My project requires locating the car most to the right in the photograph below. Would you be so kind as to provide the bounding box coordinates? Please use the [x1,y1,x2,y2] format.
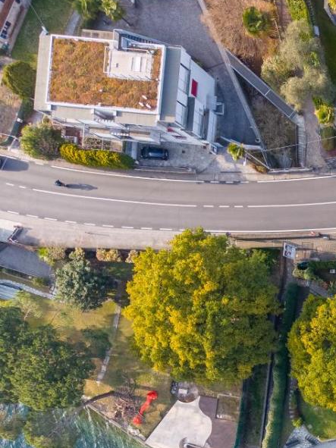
[138,146,168,162]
